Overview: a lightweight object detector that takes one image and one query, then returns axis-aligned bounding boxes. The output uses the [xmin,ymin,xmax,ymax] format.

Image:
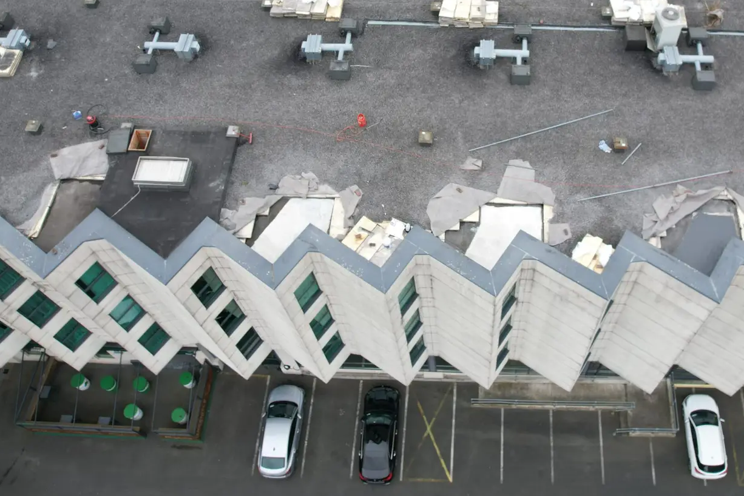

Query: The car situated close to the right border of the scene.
[679,394,727,487]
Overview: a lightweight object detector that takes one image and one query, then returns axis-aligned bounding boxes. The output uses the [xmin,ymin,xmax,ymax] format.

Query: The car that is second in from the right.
[357,386,402,490]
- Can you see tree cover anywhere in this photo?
No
